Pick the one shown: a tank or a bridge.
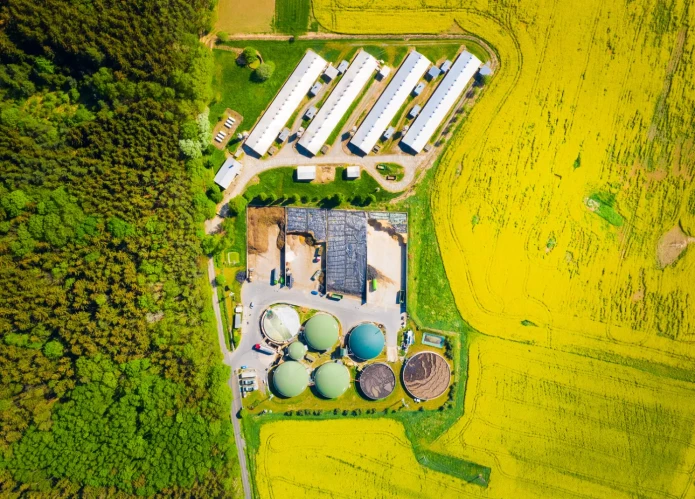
tank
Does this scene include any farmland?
Yes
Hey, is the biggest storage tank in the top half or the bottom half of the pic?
bottom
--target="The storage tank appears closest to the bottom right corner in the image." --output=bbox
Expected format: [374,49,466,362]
[402,349,450,398]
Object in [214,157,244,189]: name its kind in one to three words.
barn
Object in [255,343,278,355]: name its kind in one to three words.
vehicle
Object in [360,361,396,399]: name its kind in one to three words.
storage tank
